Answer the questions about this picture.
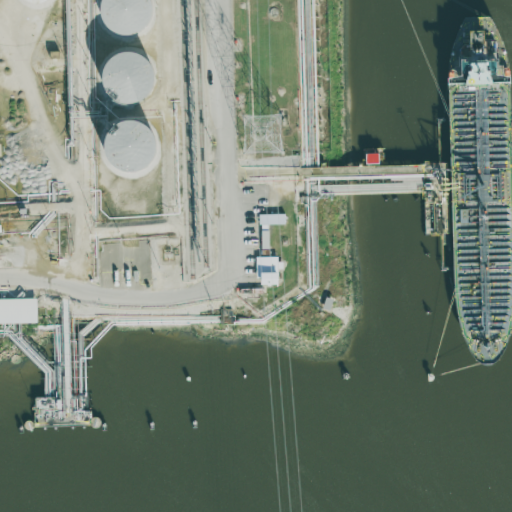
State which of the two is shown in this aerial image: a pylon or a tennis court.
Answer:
pylon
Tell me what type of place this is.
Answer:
industrial area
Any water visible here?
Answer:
Yes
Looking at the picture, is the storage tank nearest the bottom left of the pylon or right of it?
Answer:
to the left of it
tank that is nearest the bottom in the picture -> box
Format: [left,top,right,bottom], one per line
[102,118,162,178]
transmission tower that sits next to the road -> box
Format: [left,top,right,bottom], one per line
[243,114,284,154]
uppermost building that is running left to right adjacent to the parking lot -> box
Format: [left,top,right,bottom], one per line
[260,214,286,226]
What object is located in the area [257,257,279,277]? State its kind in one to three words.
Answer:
building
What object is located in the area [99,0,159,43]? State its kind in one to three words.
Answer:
storage tank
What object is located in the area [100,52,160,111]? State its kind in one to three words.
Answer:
storage tank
